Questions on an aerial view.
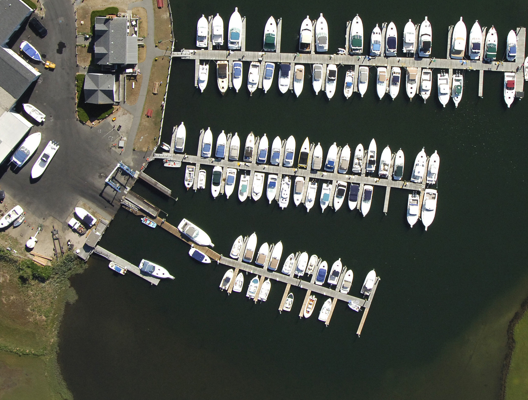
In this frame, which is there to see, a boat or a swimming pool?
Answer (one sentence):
There is a boat in the scene.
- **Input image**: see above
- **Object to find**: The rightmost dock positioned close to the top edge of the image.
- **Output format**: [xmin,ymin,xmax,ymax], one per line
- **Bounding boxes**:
[182,16,528,96]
